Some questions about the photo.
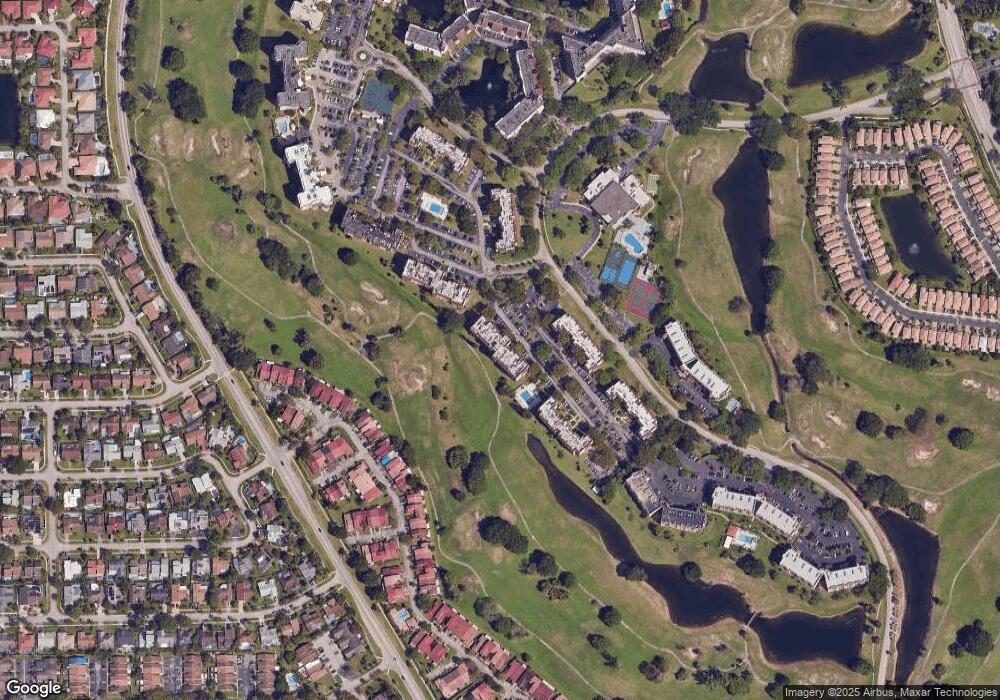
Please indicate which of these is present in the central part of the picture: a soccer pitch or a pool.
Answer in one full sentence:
Looking in the central part of the picture, you will find a pool.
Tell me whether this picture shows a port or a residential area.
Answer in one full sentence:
This looks like a residential area.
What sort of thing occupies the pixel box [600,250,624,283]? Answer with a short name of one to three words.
tennis court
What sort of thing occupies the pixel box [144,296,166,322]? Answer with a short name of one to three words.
house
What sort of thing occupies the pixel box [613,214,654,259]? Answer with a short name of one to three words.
swimming pool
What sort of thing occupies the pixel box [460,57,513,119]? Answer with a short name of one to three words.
pond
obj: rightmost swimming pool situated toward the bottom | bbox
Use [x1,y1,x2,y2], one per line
[733,530,757,549]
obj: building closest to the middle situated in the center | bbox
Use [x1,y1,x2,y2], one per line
[470,315,529,384]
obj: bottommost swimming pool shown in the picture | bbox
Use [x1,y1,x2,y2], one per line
[285,672,299,690]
